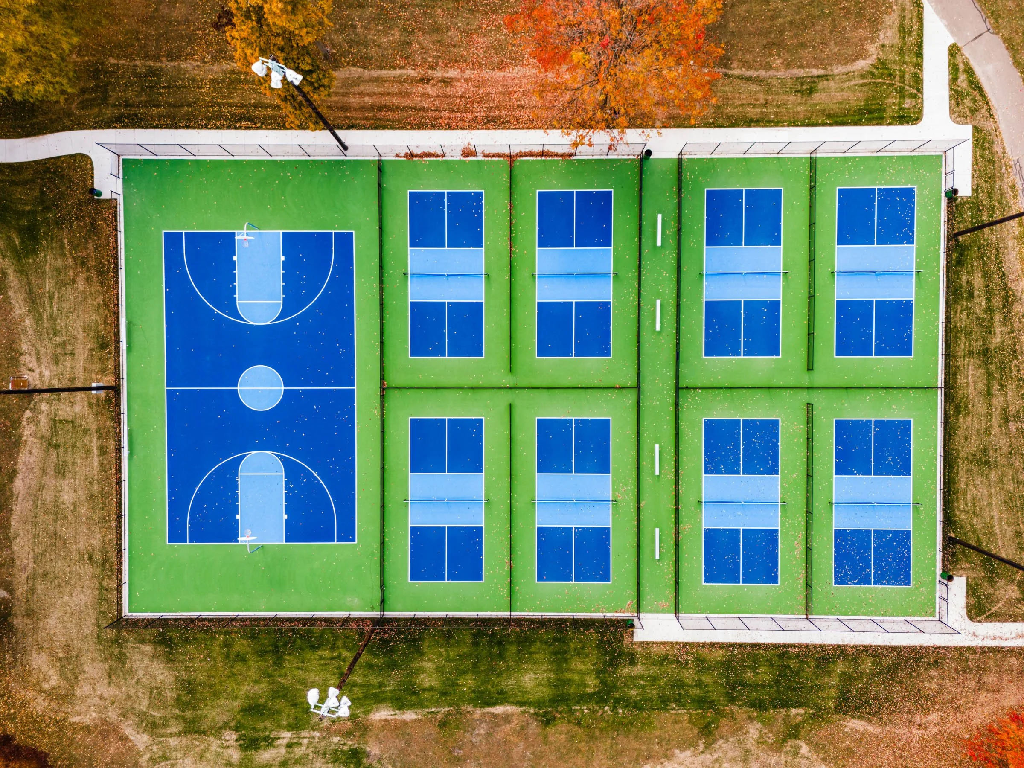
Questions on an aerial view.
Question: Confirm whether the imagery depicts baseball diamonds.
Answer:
No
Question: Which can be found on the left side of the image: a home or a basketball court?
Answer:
basketball court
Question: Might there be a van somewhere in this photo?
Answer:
No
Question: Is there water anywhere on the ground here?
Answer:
No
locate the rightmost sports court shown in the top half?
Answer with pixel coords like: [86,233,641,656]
[835,186,916,357]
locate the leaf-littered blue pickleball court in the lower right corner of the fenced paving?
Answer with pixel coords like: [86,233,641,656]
[833,419,913,587]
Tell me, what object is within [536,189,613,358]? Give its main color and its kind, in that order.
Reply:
blue sports court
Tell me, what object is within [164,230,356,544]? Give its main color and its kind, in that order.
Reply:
blue basketball court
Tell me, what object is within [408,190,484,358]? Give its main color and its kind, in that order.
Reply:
blue sports court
